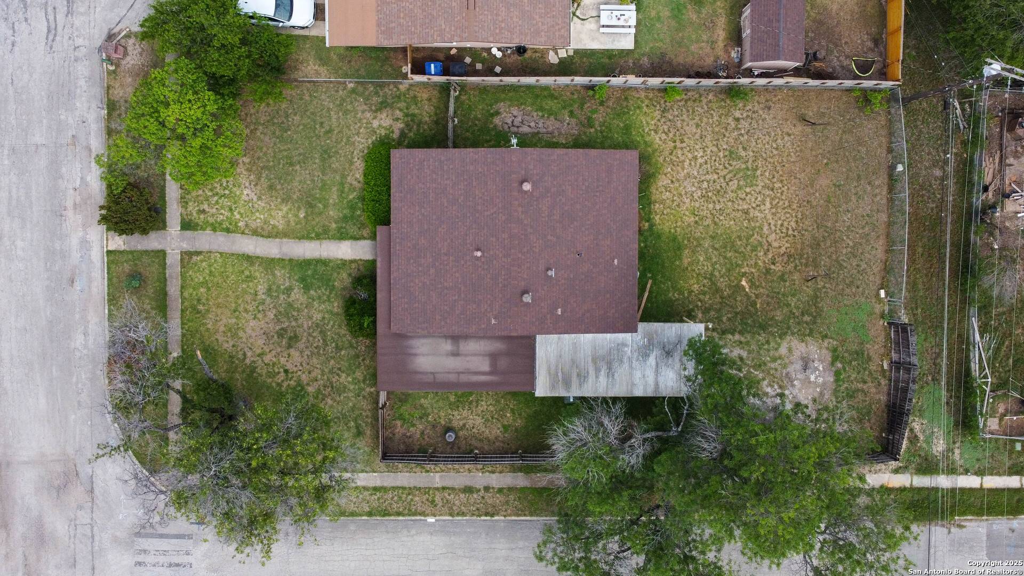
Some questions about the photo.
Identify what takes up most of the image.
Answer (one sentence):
The scene is dominated by grass.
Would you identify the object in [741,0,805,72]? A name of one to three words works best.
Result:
shed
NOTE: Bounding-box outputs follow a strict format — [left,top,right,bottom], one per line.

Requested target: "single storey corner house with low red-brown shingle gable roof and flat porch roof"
[377,146,639,392]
